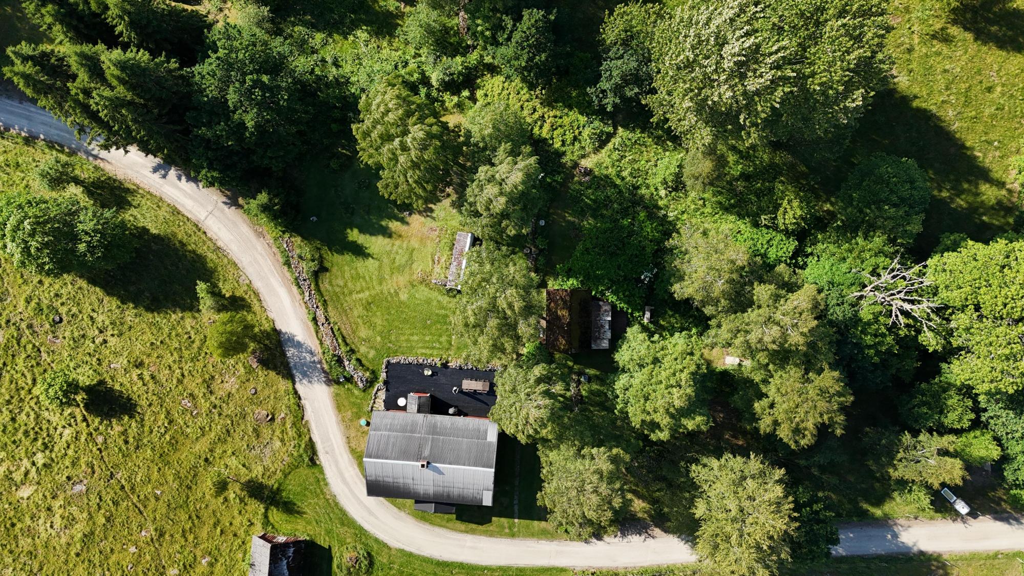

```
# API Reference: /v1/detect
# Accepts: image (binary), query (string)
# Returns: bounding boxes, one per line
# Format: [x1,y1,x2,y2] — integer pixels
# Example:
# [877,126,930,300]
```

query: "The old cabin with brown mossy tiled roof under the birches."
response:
[546,288,612,354]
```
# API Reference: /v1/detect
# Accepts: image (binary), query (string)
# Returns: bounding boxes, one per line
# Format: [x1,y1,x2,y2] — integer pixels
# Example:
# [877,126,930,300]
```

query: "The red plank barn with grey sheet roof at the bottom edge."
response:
[248,532,304,576]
